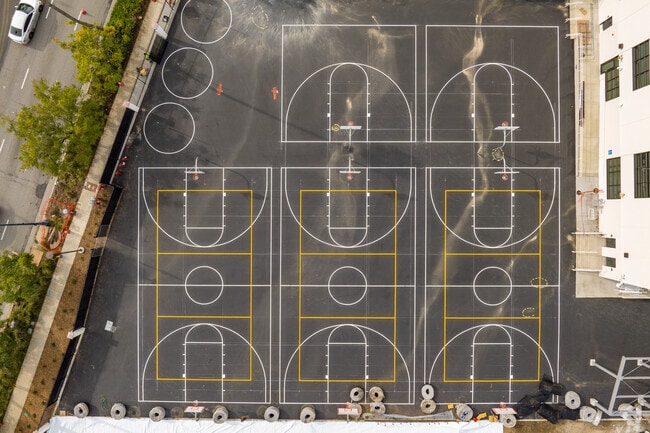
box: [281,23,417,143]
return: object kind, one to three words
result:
basketball court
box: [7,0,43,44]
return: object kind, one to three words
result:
car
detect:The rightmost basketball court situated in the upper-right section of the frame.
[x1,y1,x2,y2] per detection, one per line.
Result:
[426,23,560,143]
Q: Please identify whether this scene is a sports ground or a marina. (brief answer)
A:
sports ground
